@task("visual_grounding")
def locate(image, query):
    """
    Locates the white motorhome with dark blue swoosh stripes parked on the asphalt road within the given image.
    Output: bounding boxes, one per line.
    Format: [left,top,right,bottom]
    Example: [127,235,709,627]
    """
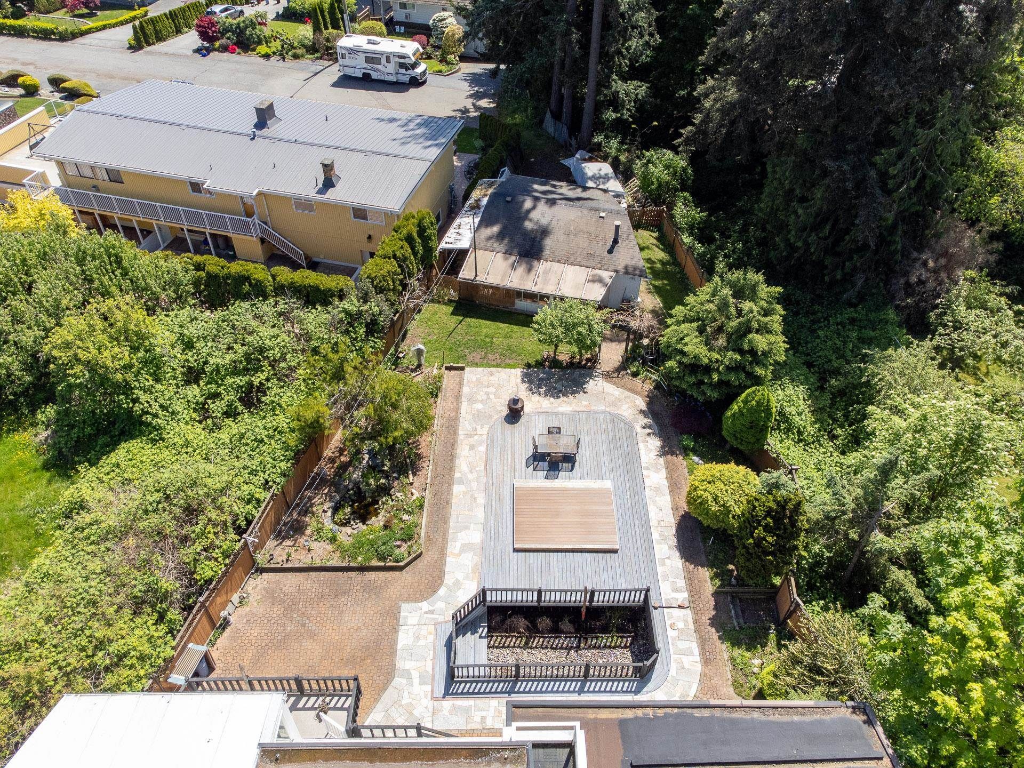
[332,29,434,84]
